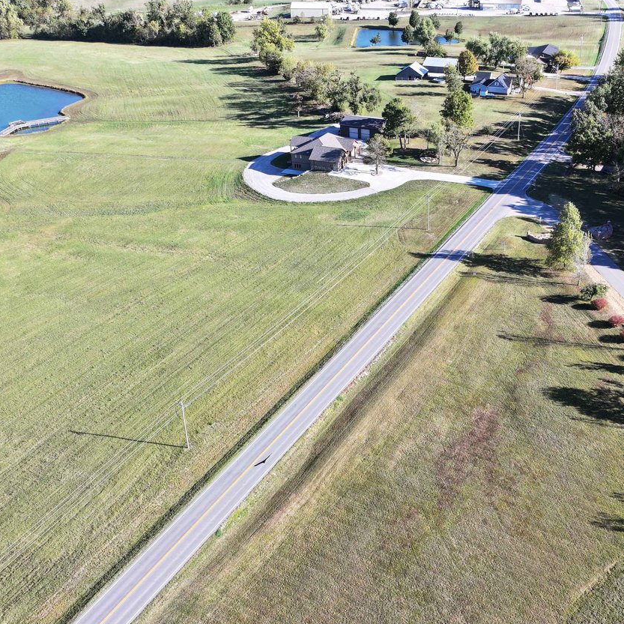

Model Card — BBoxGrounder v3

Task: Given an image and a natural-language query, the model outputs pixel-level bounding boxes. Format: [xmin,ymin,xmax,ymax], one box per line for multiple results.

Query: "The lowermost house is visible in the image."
[286,136,364,177]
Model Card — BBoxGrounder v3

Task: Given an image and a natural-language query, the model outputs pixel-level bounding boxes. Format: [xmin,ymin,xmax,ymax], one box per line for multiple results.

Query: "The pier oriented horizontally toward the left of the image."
[0,114,71,133]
